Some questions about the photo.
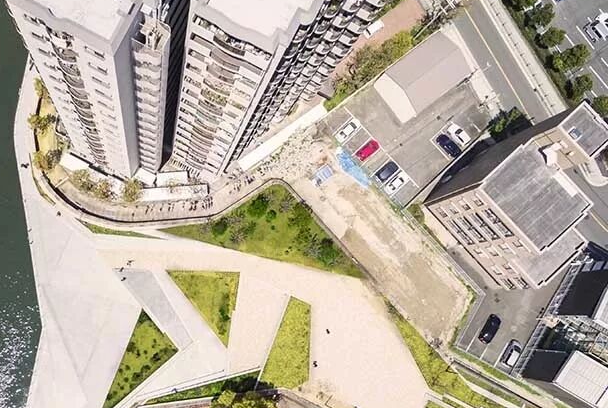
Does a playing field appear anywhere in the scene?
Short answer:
No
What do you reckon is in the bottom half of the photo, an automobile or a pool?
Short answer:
automobile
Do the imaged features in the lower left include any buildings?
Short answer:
No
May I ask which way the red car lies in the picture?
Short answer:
on a diagonal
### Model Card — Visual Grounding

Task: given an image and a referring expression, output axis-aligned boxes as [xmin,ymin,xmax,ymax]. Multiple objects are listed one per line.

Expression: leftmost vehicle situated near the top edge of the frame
[362,20,385,40]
